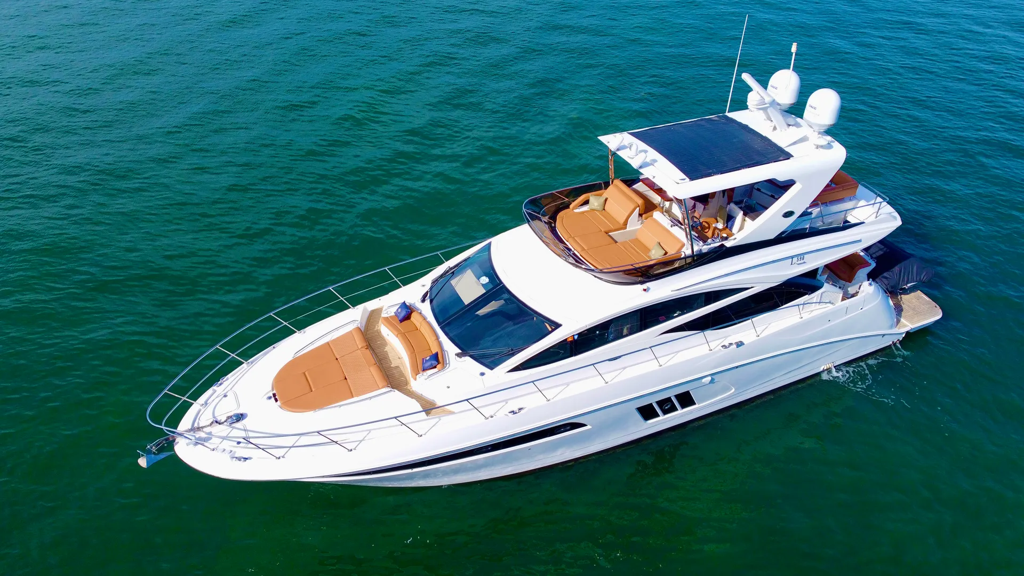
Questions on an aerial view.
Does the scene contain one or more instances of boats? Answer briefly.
Yes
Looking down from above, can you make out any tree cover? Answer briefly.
No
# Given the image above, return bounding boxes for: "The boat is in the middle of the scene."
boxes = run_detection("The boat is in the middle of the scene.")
[146,15,940,487]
